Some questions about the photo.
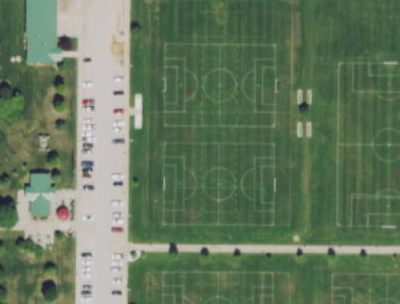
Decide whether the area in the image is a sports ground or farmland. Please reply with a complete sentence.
The picture captures a sports ground.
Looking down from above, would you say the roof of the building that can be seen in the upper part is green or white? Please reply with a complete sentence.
The roof of the building that can be seen in the upper part looks green in the image.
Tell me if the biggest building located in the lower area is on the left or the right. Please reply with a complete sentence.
The biggest building located in the lower area appears in the left half of the scene.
